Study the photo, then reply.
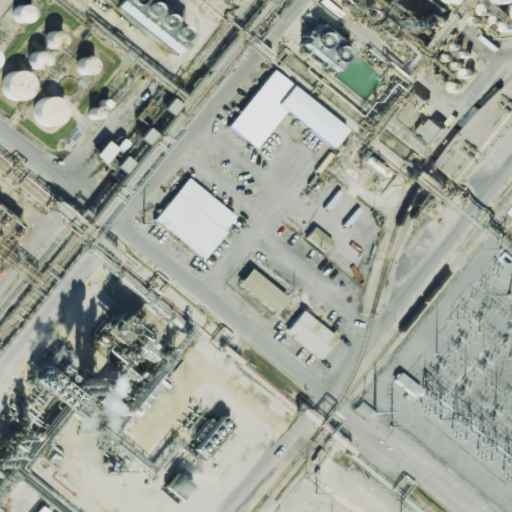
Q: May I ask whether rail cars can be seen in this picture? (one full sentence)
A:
Yes, the frame does contain a rail car.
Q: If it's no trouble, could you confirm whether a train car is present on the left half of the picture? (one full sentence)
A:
No, looking on the left half of the picture, there is no train car.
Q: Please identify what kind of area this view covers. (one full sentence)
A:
It's an industrial area.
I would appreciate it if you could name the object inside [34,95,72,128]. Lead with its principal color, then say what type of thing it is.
white storage tank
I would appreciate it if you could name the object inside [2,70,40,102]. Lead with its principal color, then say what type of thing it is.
white storage tank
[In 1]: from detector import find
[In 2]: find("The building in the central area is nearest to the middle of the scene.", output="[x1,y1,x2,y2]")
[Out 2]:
[238,268,289,314]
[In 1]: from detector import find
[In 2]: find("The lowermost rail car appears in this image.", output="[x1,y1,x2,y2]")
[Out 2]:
[402,300,428,332]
